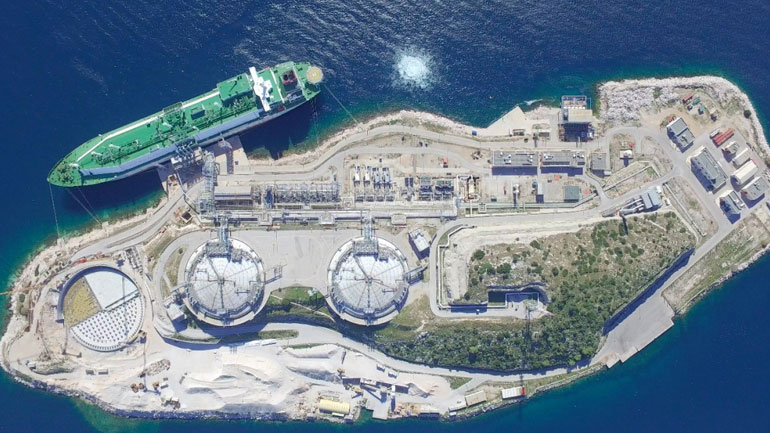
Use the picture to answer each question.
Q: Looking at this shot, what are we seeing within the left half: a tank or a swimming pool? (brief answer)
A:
tank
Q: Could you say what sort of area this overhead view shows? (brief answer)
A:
port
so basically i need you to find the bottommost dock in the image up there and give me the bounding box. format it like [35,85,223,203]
[358,383,392,420]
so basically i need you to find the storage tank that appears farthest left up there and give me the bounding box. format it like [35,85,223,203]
[50,262,144,352]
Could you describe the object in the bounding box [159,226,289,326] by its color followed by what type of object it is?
white storage tank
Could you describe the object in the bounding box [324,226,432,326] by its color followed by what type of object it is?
white storage tank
